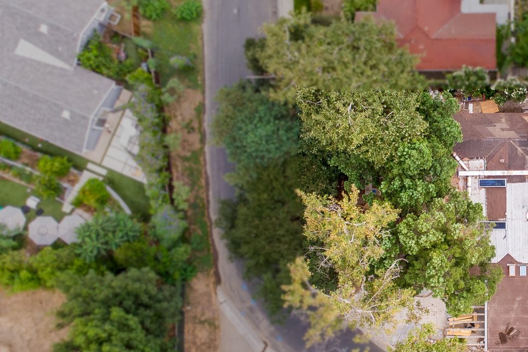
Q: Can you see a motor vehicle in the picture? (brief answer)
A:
No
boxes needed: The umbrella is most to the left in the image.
[0,206,34,236]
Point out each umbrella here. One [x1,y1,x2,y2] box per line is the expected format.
[0,206,34,236]
[30,216,60,246]
[60,212,93,242]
